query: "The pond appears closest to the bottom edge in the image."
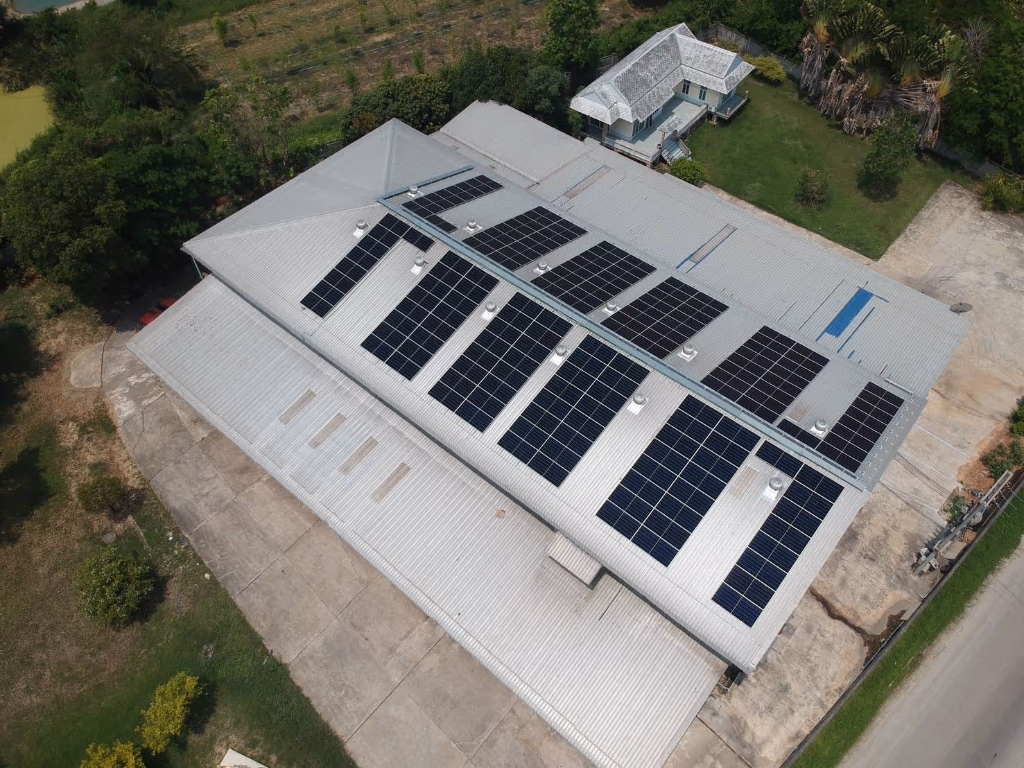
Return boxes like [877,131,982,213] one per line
[0,85,52,162]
